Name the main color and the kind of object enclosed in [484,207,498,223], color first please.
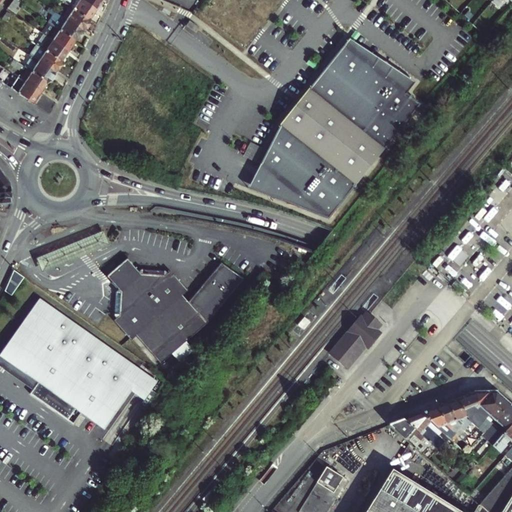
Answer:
white camper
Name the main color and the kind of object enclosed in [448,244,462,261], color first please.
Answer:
white camper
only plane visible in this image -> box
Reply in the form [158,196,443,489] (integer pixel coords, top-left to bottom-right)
[390,452,413,470]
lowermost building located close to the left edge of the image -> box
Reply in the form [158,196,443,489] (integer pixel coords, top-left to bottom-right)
[0,298,157,430]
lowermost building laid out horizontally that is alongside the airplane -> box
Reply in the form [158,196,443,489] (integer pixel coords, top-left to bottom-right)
[366,470,460,512]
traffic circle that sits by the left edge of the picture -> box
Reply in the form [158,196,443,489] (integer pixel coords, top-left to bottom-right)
[18,140,100,221]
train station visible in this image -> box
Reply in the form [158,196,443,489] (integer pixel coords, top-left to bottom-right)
[328,308,383,370]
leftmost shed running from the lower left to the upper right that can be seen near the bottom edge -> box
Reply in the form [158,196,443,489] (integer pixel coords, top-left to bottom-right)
[278,474,316,512]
